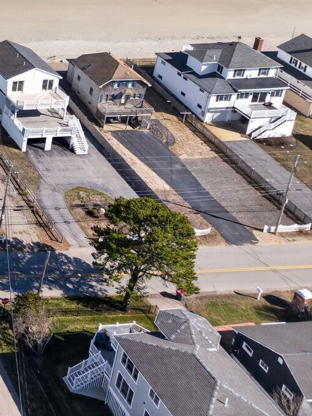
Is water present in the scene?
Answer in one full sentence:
No, there's no water in this view.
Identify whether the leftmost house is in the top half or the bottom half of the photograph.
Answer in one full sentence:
You can find the leftmost house in the top half.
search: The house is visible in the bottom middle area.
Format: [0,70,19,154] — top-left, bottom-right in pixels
[59,308,282,416]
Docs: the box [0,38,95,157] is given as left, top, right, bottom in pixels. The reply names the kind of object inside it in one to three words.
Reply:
house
